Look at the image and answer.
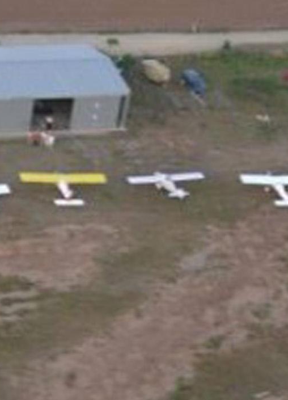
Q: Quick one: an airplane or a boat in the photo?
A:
airplane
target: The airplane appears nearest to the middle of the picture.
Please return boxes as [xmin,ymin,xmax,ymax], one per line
[128,172,206,199]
